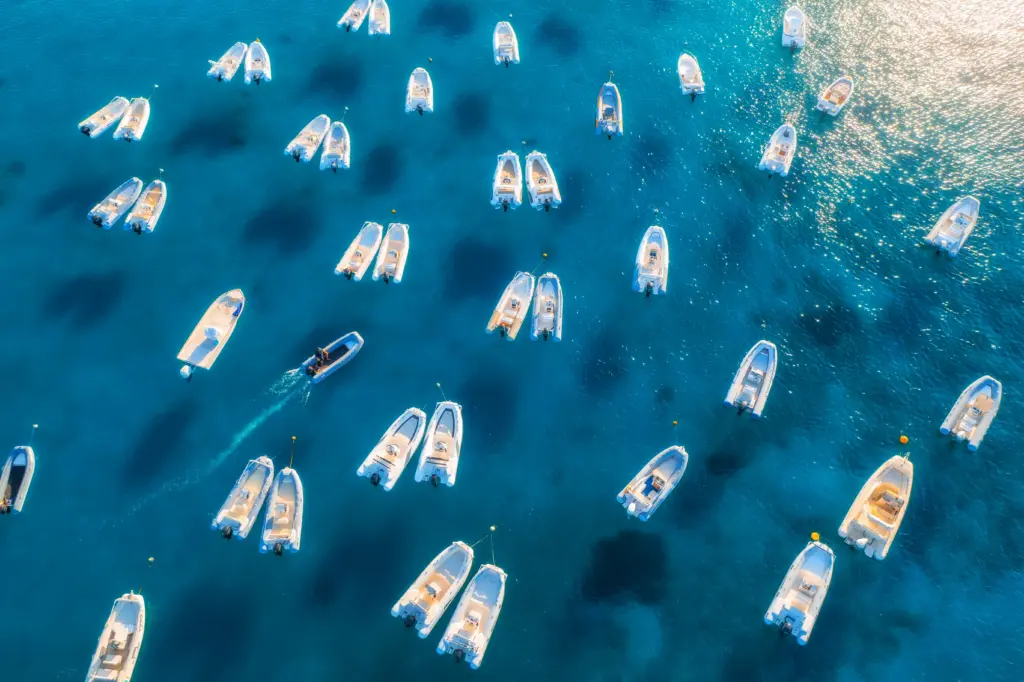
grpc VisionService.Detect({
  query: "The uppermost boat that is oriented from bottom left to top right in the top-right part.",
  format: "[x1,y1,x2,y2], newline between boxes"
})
[817,76,854,118]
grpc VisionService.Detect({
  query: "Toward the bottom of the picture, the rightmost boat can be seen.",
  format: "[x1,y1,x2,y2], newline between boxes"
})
[940,374,998,452]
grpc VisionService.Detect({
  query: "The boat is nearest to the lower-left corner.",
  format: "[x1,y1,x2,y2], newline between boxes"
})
[85,589,145,682]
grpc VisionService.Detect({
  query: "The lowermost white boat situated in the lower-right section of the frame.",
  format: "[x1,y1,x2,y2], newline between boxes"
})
[765,540,831,646]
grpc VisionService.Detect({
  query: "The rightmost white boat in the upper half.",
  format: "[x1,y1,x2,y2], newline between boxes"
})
[925,199,980,258]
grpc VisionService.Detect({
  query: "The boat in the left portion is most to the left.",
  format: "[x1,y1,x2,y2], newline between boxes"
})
[0,445,34,513]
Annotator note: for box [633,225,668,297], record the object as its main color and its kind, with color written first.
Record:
white boat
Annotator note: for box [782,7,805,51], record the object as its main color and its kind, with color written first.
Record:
white boat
